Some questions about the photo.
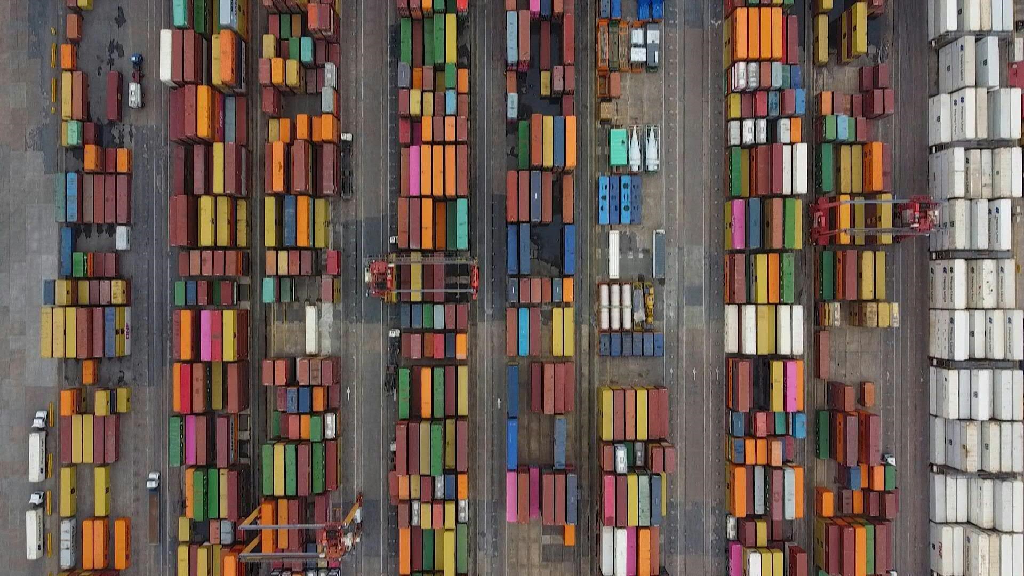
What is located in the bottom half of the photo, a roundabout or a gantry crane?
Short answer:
gantry crane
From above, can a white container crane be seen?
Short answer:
No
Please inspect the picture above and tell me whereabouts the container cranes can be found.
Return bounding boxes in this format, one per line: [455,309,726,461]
[810,198,949,246]
[367,255,482,300]
[238,493,364,563]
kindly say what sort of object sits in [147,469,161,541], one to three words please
vehicle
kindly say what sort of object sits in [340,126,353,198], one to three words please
vehicle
